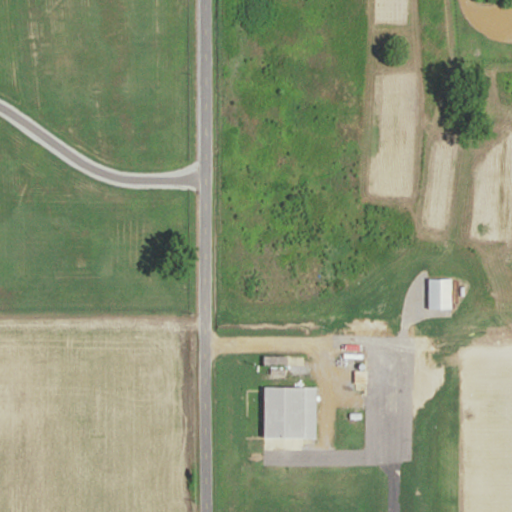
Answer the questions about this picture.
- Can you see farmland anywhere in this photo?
Yes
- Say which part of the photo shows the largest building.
bottom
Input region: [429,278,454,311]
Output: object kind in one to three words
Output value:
house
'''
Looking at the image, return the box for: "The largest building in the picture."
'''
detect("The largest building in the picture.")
[264,388,317,440]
